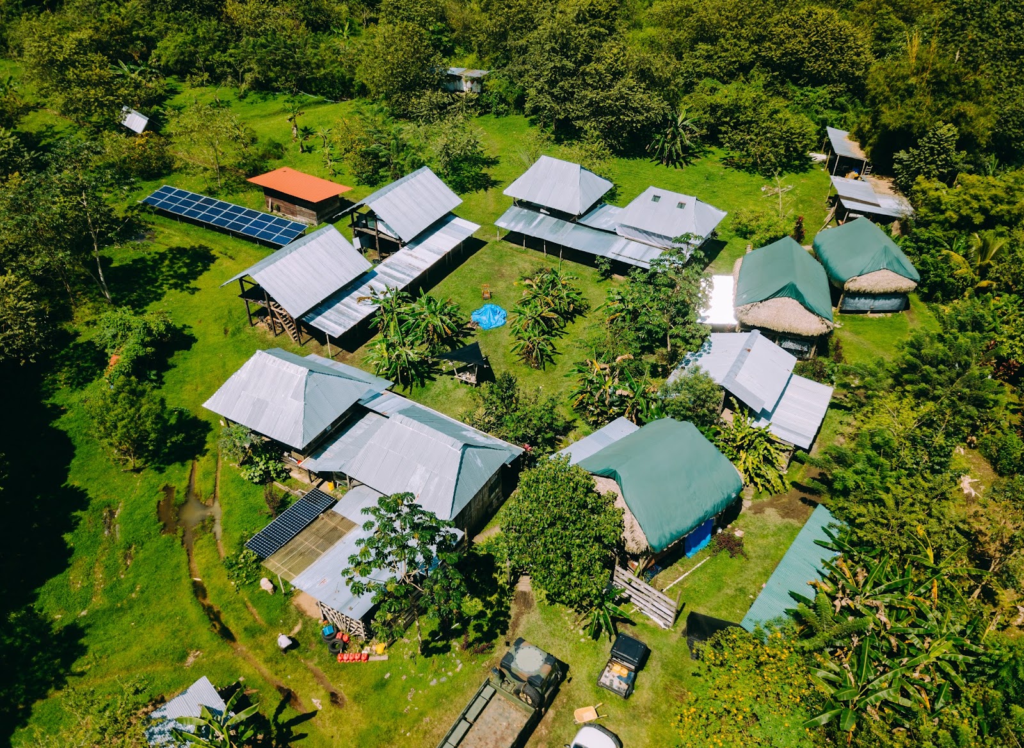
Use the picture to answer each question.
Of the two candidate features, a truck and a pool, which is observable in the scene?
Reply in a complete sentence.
The image shows a truck.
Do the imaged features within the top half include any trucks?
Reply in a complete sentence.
No, no truck appears within the top half.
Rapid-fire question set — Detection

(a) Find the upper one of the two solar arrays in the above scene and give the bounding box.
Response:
[142,185,308,250]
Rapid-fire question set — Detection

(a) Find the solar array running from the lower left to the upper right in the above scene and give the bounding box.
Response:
[245,489,336,577]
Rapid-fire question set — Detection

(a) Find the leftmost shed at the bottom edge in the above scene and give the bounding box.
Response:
[147,676,234,748]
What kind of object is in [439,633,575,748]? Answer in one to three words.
truck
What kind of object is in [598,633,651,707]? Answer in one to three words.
truck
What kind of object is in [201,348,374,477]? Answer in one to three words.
house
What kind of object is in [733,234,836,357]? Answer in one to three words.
shed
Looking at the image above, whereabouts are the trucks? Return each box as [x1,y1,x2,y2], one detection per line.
[439,633,575,748]
[598,633,651,707]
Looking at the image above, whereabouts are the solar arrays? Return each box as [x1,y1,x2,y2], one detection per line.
[142,185,308,250]
[245,489,336,577]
